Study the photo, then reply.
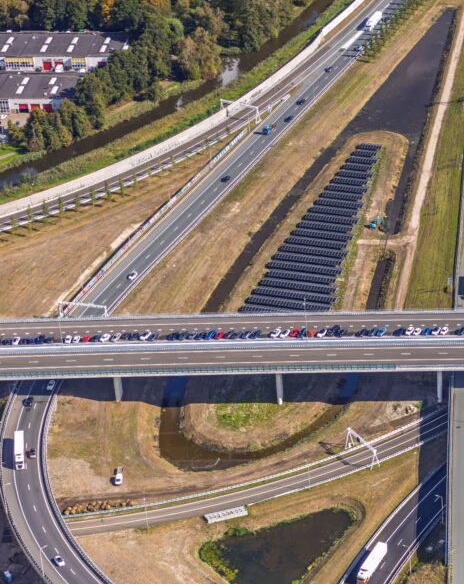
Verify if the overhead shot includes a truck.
Yes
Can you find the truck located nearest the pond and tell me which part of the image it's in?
bottom right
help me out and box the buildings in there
[0,31,131,71]
[0,72,85,114]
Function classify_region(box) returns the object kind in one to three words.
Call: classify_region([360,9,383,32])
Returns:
truck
